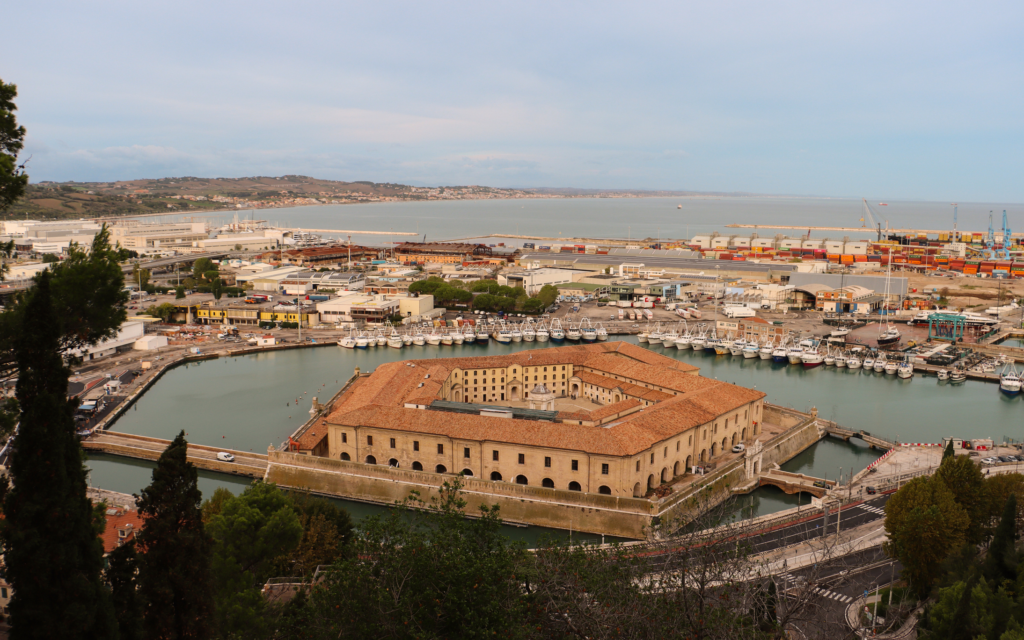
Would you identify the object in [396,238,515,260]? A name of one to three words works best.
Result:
hangar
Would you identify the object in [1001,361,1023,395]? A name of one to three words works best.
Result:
boat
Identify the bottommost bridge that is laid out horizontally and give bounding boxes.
[759,477,835,504]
